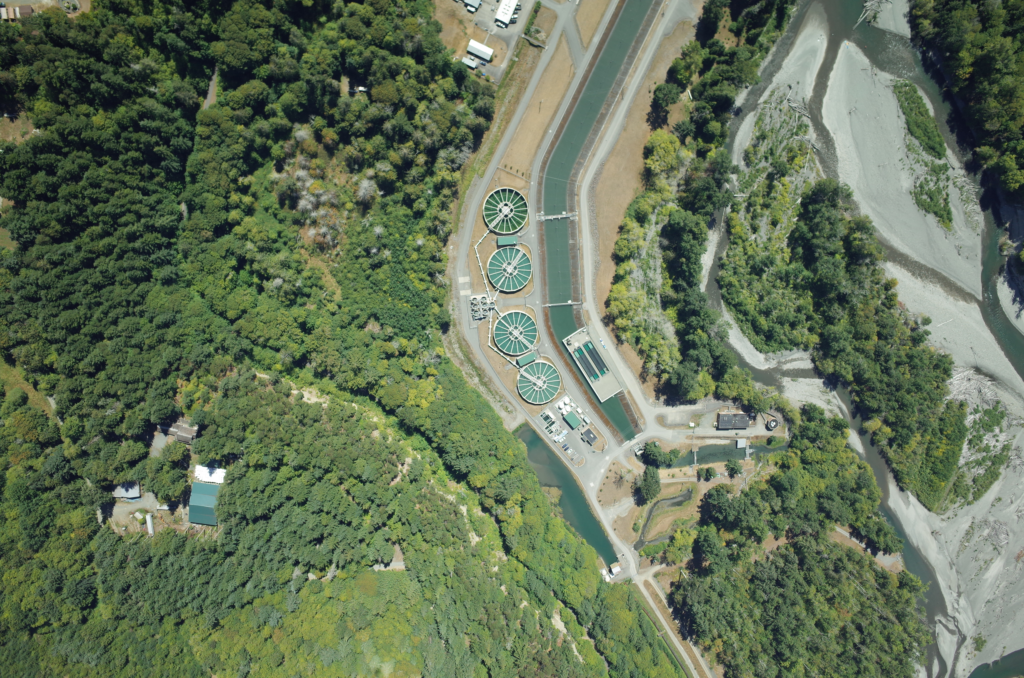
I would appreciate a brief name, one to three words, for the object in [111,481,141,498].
shed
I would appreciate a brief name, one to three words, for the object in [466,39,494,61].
house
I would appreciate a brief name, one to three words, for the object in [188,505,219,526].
barn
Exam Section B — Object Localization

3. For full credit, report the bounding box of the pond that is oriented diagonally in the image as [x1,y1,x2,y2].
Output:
[516,423,614,567]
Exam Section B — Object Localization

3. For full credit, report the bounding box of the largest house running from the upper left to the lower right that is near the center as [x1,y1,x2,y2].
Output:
[562,326,626,402]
